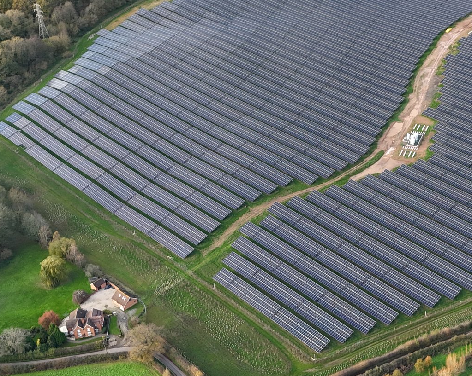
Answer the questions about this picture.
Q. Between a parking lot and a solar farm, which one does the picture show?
solar farm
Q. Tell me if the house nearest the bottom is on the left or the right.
left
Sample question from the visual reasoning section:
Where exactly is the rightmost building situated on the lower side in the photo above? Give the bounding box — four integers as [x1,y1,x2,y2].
[106,286,136,311]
